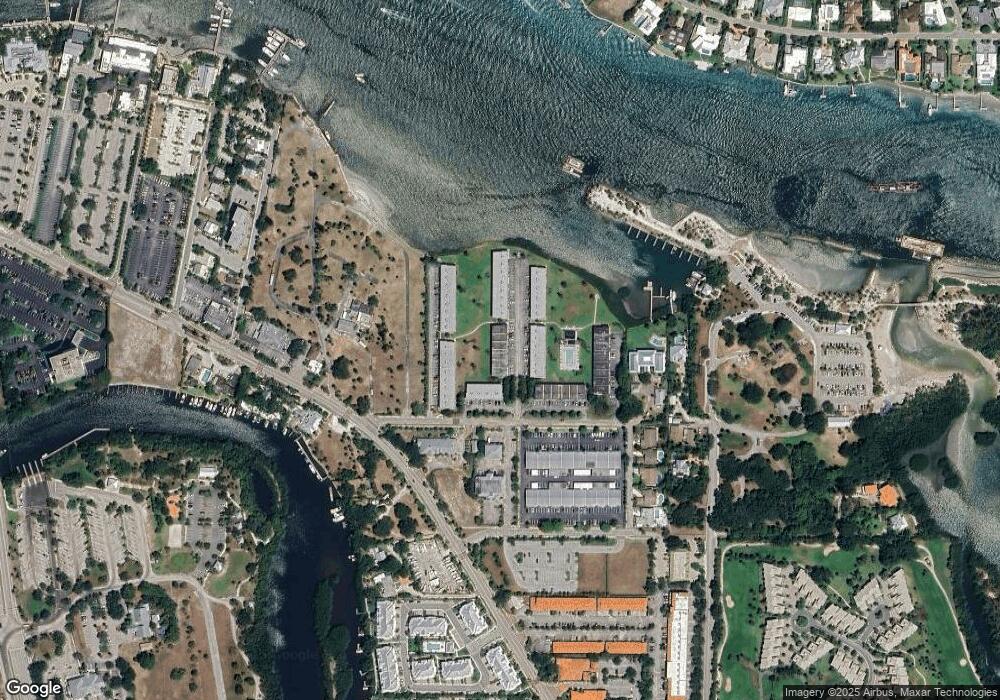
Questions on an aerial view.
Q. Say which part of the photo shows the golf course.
bottom right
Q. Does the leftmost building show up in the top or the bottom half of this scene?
top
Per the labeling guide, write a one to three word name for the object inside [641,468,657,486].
house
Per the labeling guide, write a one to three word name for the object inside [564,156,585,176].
ship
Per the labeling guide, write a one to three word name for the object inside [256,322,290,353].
building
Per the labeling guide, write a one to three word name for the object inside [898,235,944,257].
ship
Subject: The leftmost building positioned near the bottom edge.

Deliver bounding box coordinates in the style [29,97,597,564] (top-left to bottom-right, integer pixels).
[66,677,104,699]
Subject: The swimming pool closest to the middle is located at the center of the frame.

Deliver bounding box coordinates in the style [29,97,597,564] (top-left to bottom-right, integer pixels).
[561,345,579,370]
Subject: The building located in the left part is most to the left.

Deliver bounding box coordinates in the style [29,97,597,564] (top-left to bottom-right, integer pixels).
[3,37,47,71]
